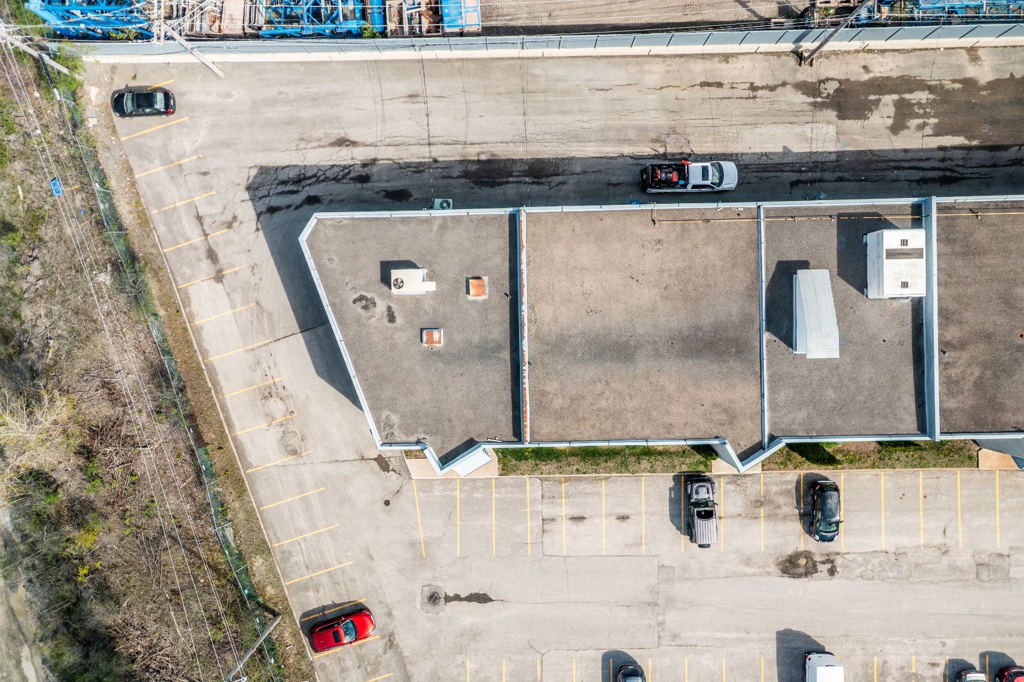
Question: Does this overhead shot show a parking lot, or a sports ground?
parking lot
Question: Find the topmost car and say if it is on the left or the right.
left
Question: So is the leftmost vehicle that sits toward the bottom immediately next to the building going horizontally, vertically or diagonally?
vertically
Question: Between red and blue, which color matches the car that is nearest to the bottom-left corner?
red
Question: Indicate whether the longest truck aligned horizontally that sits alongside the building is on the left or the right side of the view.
right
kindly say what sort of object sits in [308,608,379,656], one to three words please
car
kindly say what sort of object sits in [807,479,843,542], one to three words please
car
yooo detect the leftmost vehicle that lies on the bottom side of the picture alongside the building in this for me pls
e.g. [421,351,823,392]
[683,476,719,549]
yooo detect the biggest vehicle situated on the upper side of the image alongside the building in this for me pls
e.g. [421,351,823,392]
[635,157,738,194]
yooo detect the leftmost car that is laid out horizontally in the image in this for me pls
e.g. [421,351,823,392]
[114,87,179,119]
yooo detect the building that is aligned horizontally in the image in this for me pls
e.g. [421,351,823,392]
[299,195,1024,476]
